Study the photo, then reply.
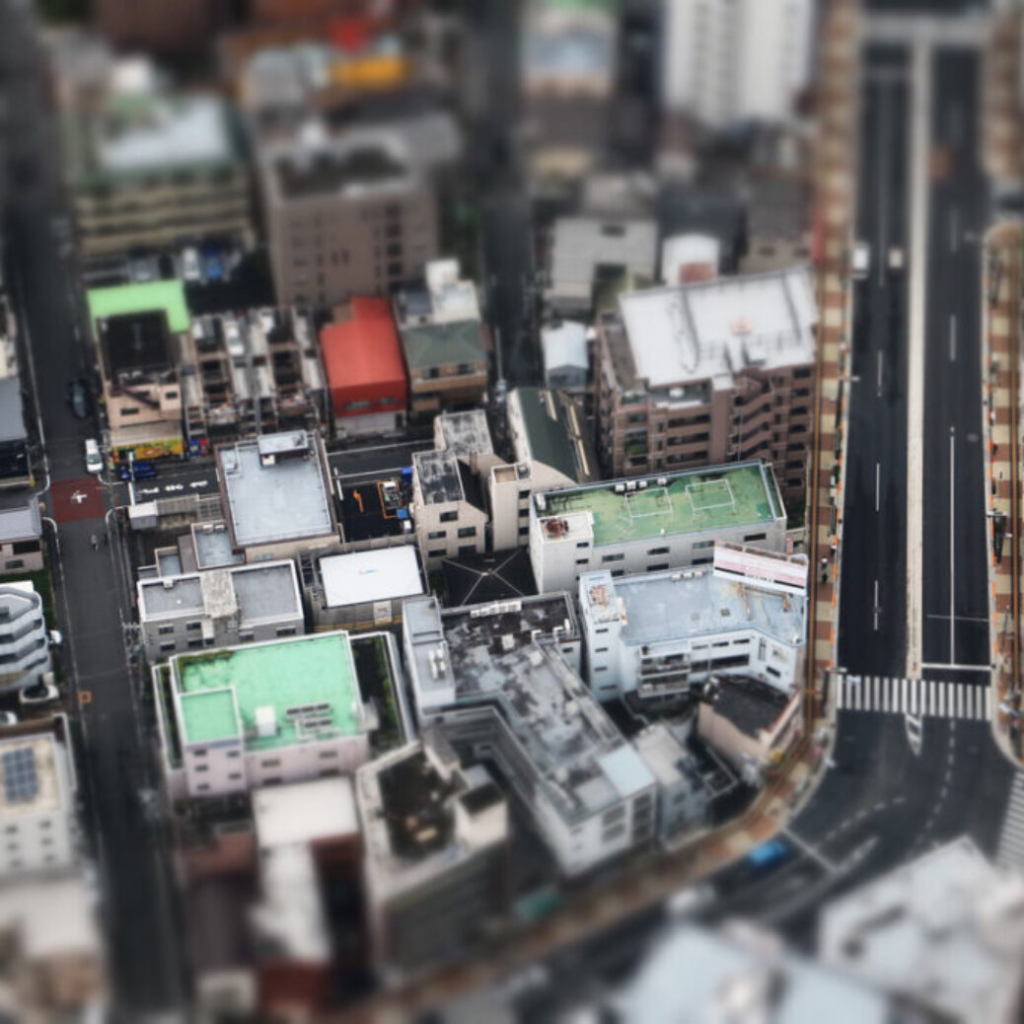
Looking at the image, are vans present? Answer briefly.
Yes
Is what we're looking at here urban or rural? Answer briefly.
urban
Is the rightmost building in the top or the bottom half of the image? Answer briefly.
bottom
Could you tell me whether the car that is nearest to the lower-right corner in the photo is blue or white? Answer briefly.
blue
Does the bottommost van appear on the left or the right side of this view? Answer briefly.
right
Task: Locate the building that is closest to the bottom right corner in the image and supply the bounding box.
[816,836,1024,1024]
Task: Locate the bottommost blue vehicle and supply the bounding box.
[743,840,787,872]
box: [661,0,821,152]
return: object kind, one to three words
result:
building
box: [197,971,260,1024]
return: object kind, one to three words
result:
house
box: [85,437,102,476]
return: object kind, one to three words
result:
vehicle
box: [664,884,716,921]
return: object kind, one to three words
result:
van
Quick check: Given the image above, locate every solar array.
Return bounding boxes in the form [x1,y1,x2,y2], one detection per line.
[2,749,38,804]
